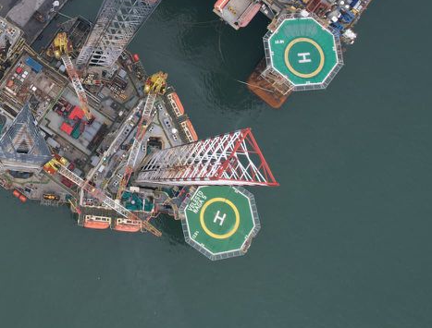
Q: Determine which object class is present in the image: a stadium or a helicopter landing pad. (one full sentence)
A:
Visible in the photo is a helicopter landing pad.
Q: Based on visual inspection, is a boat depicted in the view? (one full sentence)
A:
Yes, this view includes a boat.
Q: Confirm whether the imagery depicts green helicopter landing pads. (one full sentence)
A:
Yes, the picture does show a green helicopter landing pad.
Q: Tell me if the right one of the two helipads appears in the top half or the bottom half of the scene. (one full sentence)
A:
Seen from above, the right one of the two helipads lies in the top half of the view.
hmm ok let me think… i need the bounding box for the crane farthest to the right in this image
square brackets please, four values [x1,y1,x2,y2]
[114,68,166,208]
